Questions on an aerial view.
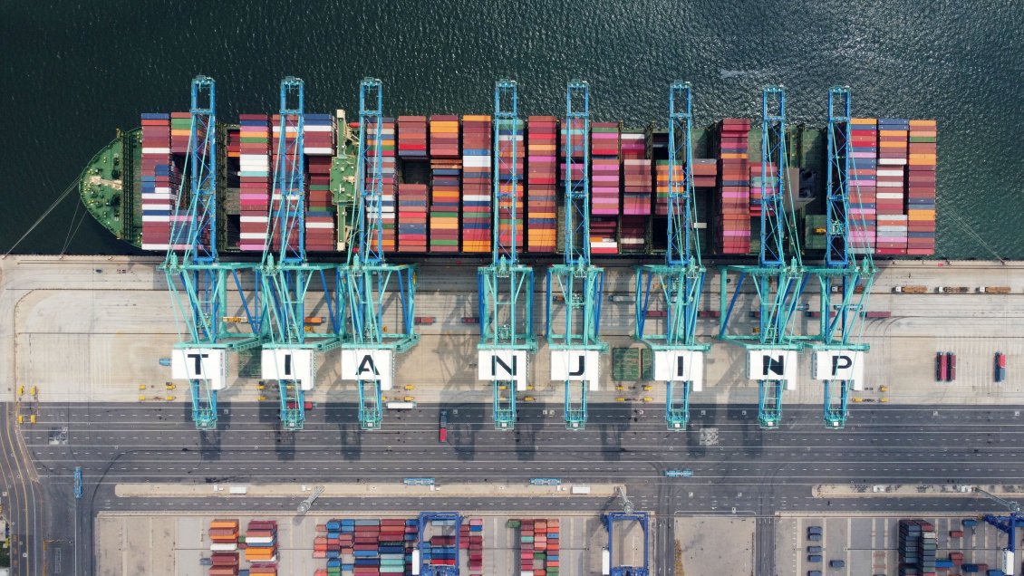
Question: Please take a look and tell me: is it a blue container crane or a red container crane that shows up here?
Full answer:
Looking from above, you can make out a blue container crane.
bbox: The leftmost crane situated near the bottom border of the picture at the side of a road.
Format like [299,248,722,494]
[412,511,467,576]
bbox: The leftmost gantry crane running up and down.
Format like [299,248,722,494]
[157,74,281,429]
